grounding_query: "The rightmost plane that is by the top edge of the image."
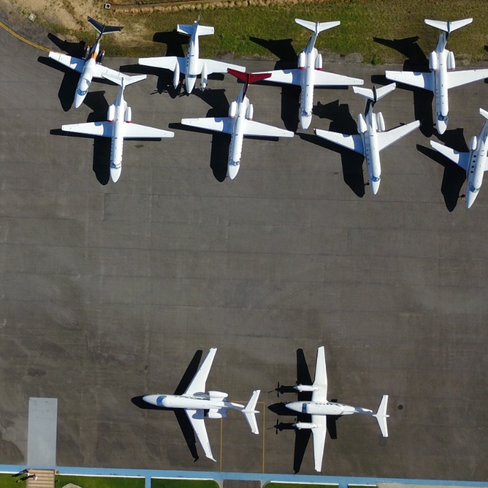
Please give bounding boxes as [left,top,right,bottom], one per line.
[386,17,488,134]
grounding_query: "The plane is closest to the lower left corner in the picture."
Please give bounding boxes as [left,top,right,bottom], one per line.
[143,349,262,463]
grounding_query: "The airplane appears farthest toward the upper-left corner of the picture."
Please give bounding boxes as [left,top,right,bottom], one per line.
[48,16,129,107]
